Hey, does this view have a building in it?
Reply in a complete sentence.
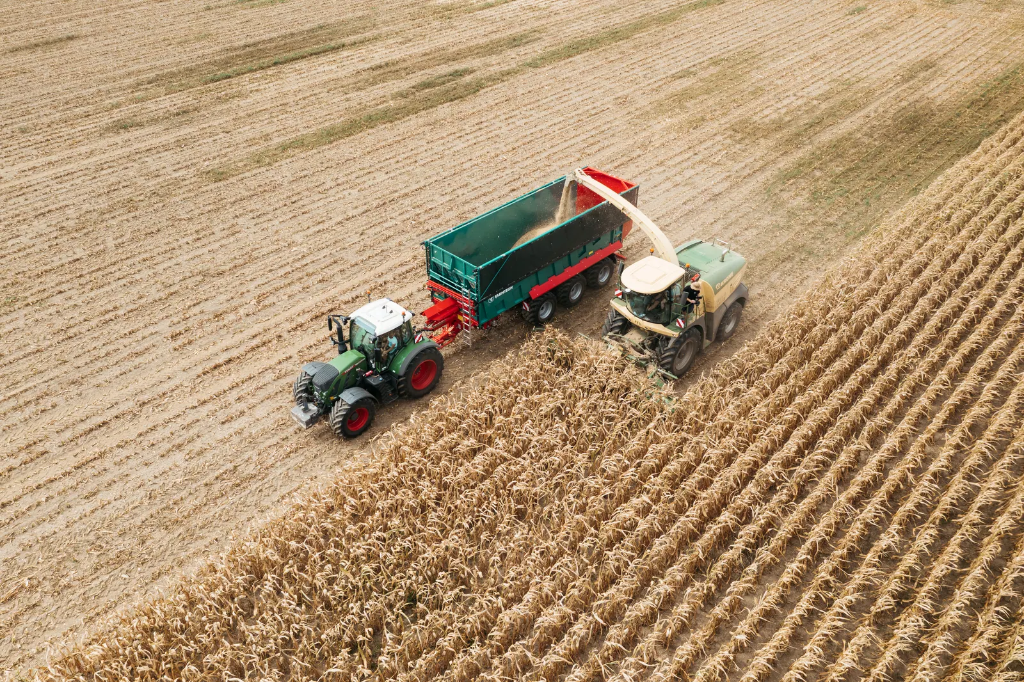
No, the photo shows no building.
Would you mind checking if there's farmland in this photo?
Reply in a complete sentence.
Yes, there is farmland in the image.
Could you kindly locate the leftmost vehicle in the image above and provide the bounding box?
[291,295,447,442]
